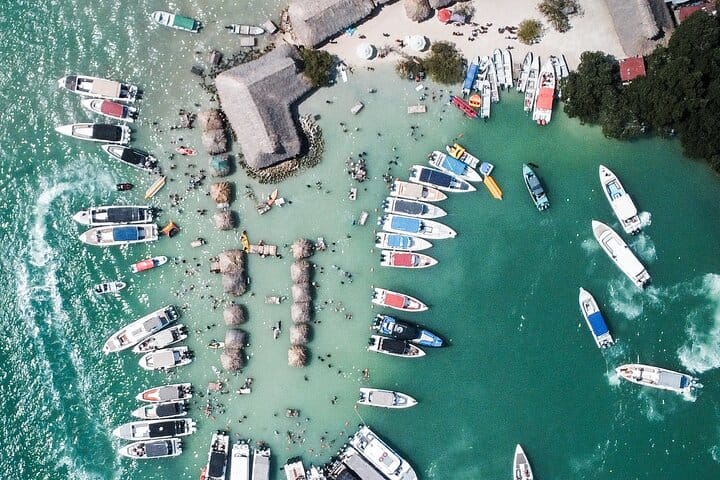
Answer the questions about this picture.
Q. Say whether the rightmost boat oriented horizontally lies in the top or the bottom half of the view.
bottom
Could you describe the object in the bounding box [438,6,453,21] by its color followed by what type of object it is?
red umbrella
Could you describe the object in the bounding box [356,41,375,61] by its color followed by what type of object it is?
white umbrella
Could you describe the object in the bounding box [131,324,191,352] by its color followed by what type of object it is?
white boat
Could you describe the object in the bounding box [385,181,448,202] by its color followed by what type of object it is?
white boat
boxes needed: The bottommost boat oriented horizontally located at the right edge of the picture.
[616,367,698,390]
